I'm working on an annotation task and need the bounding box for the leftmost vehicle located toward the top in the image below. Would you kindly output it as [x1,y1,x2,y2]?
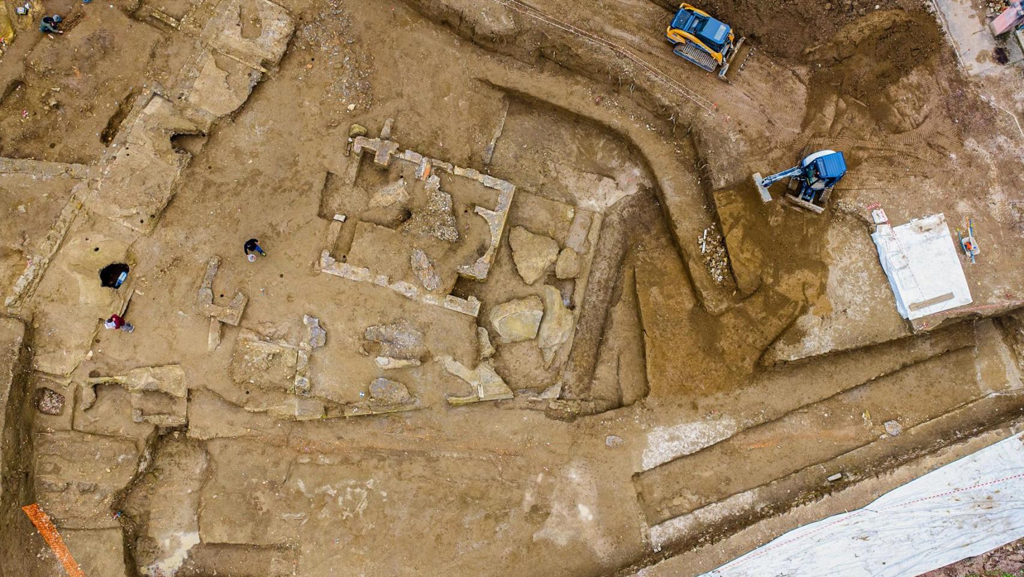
[658,0,755,89]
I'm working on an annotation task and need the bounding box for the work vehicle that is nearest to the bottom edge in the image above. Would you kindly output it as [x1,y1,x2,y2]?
[751,143,855,214]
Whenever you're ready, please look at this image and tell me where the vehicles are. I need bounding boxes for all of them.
[658,0,755,89]
[751,143,855,214]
